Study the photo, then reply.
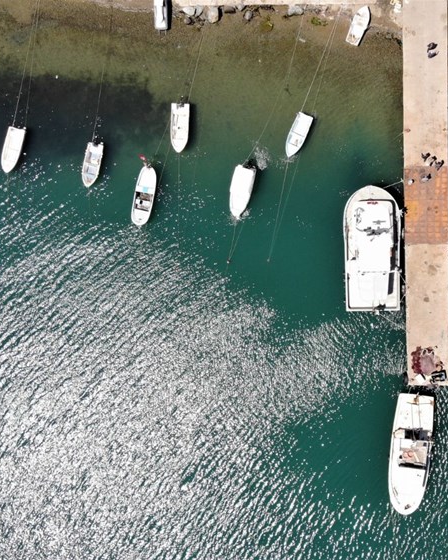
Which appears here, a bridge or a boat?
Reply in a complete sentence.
Looking from above, you can make out a boat.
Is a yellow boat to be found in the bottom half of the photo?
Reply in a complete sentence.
No, in the bottom half of the photo there is no yellow boat.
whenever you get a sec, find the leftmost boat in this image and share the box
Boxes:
[1,126,25,173]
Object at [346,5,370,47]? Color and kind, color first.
white boat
